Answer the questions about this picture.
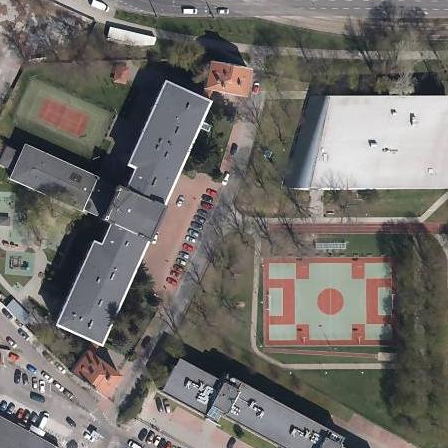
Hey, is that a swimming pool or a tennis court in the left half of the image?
tennis court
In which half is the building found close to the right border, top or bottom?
top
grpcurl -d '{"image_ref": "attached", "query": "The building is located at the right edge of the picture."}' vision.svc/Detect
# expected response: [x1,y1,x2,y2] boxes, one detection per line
[287,87,448,189]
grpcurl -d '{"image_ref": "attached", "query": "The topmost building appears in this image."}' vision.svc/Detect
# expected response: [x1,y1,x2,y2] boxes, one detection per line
[105,26,156,47]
